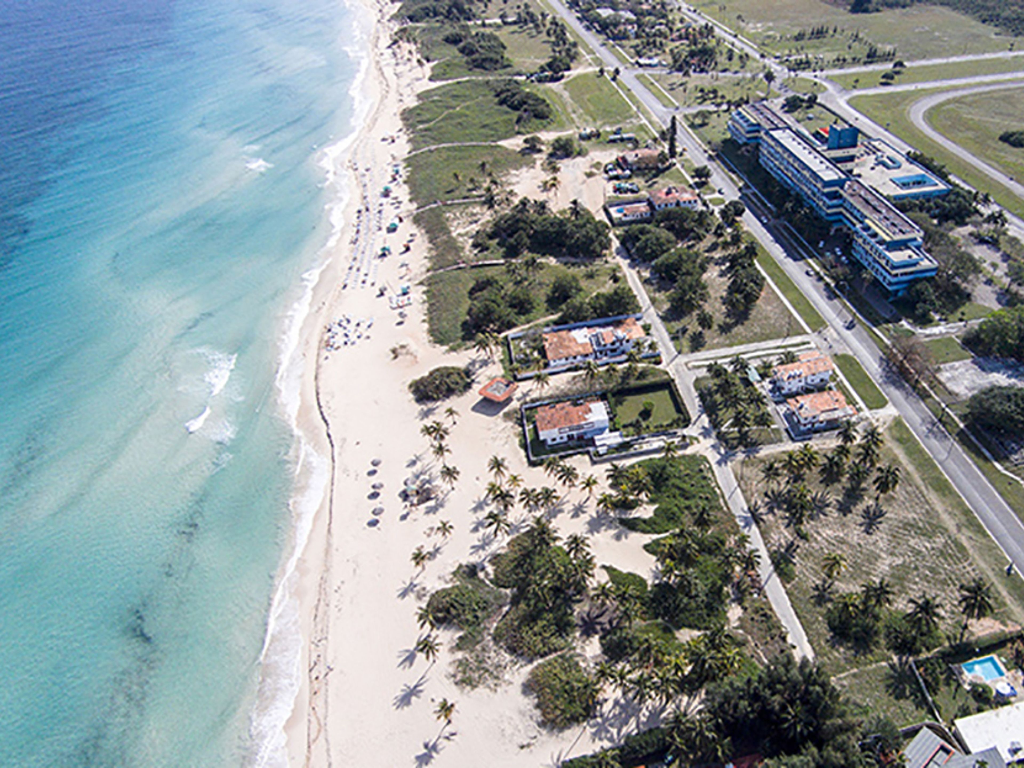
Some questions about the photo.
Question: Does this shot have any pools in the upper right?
No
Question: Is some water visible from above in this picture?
Yes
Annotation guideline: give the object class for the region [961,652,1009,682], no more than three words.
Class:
swimming pool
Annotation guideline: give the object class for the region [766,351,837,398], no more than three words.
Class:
house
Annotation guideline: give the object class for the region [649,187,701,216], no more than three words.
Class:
house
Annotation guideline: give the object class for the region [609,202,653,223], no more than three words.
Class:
shed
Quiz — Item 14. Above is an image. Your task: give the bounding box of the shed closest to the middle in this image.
[479,379,517,406]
